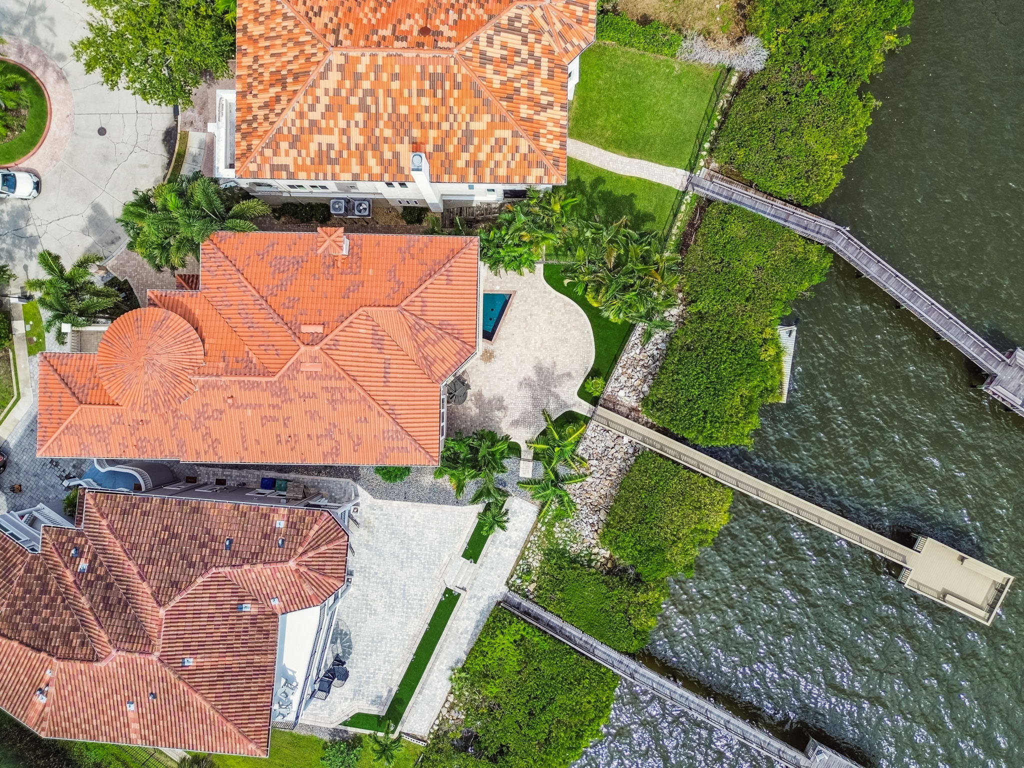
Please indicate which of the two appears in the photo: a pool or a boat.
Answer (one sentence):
There is a pool in the scene.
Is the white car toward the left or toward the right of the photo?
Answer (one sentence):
The white car appears in the left half of the scene.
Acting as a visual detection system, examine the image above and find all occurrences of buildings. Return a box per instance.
[206,0,598,212]
[0,459,373,759]
[34,225,483,468]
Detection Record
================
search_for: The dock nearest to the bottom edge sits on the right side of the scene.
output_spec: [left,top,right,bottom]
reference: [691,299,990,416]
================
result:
[501,587,885,768]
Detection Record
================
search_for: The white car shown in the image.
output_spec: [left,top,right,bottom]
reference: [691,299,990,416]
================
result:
[0,163,41,200]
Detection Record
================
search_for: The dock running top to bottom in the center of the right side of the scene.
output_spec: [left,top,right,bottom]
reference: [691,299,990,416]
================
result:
[762,323,803,403]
